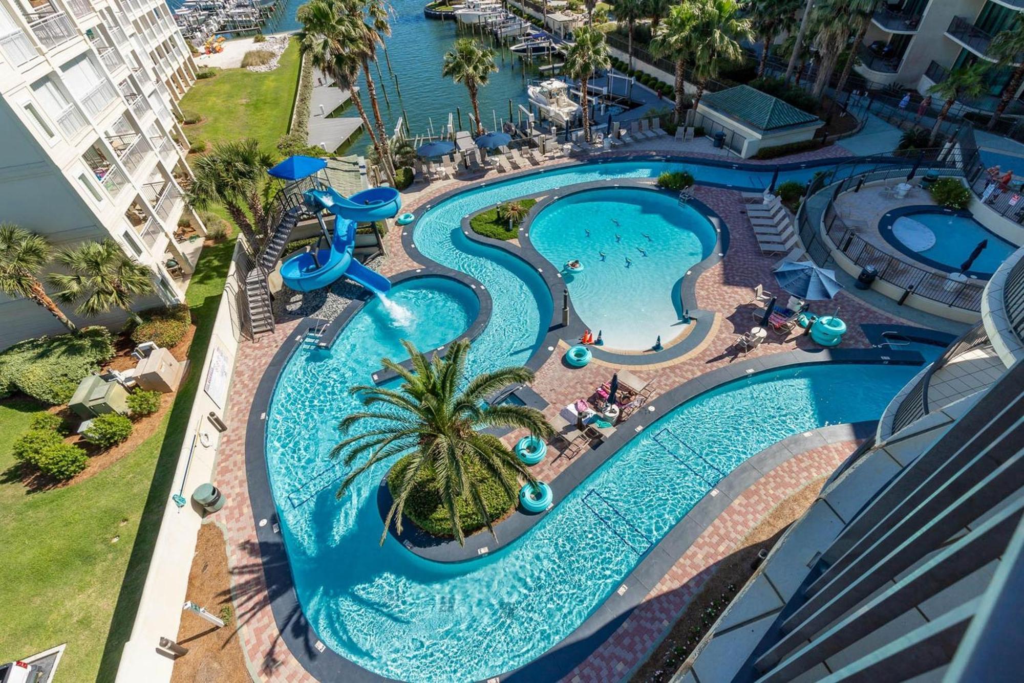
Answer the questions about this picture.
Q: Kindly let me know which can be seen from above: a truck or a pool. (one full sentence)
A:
Looking from above, you can make out a pool.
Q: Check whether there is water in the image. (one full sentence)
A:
Yes, the picture does contain water.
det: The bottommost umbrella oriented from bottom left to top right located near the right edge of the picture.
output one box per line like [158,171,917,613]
[961,242,989,278]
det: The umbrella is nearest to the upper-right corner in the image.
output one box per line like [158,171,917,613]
[905,156,923,189]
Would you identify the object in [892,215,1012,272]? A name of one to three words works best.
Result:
swimming pool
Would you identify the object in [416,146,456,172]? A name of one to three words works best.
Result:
umbrella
